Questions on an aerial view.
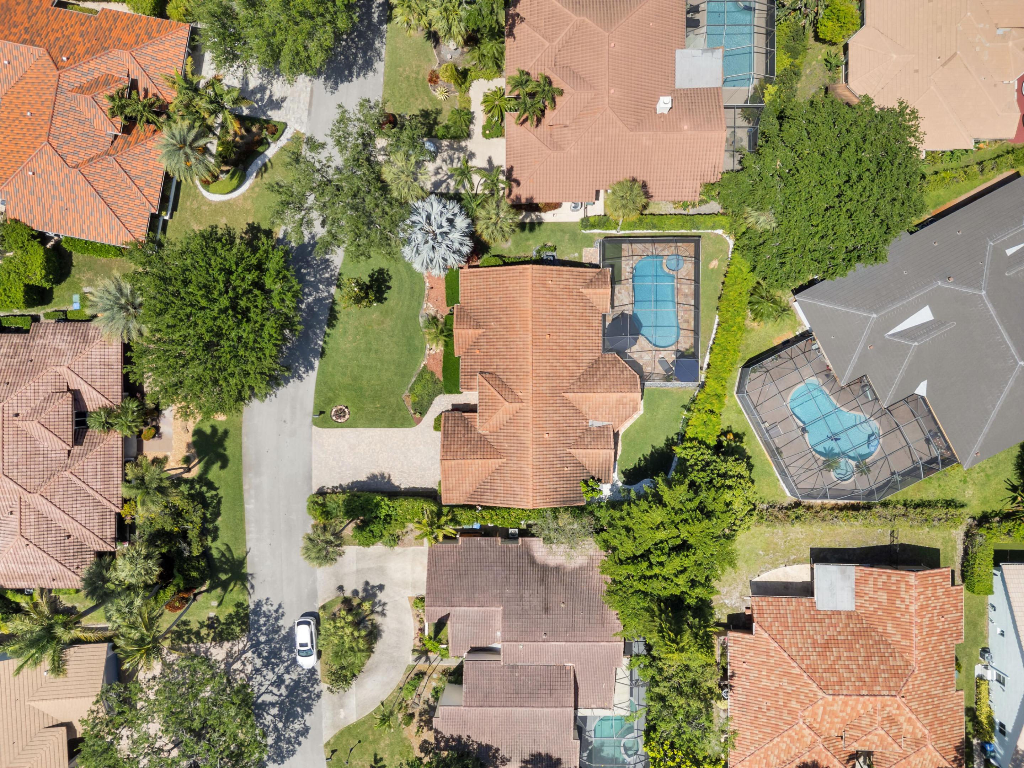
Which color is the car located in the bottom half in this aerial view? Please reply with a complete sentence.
The car located in the bottom half looks white in the image.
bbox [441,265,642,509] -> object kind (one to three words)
house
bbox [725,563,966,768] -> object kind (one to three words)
house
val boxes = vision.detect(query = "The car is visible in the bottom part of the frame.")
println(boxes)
[295,615,320,668]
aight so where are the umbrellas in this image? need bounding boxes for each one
[673,358,698,383]
[604,317,640,353]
